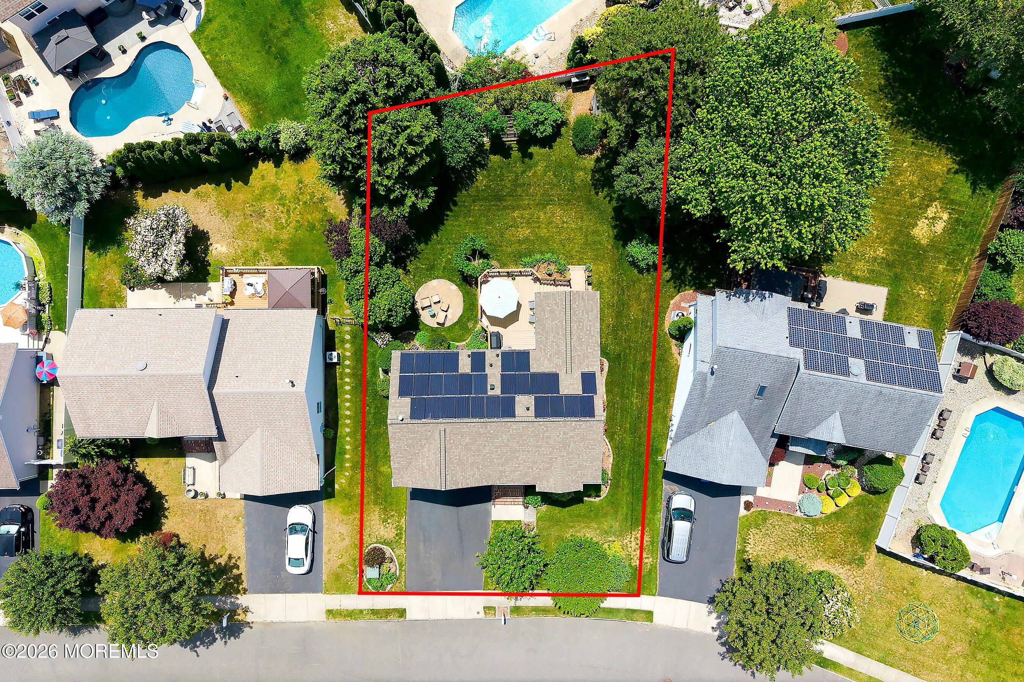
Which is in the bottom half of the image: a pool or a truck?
pool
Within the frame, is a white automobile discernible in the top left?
No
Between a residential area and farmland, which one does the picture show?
residential area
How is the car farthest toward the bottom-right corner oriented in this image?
vertically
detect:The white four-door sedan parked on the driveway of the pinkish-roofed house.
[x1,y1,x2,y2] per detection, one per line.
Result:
[283,503,316,574]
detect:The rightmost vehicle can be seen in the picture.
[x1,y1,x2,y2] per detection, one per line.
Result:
[662,491,696,562]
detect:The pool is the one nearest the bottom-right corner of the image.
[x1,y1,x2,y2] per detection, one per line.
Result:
[939,405,1024,542]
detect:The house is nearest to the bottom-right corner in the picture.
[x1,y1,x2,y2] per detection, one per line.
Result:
[655,287,944,486]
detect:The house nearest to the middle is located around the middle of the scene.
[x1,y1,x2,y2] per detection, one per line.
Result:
[388,290,604,493]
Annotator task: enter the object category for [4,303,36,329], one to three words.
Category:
umbrella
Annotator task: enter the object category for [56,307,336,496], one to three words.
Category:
house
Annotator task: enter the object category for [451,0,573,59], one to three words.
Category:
swimming pool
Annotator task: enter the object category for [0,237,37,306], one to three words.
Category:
swimming pool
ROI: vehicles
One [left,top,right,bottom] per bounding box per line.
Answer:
[283,503,316,574]
[0,493,34,565]
[662,491,696,562]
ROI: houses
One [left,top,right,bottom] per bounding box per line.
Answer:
[655,287,944,486]
[388,290,604,493]
[0,0,113,35]
[0,342,39,490]
[56,307,336,496]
